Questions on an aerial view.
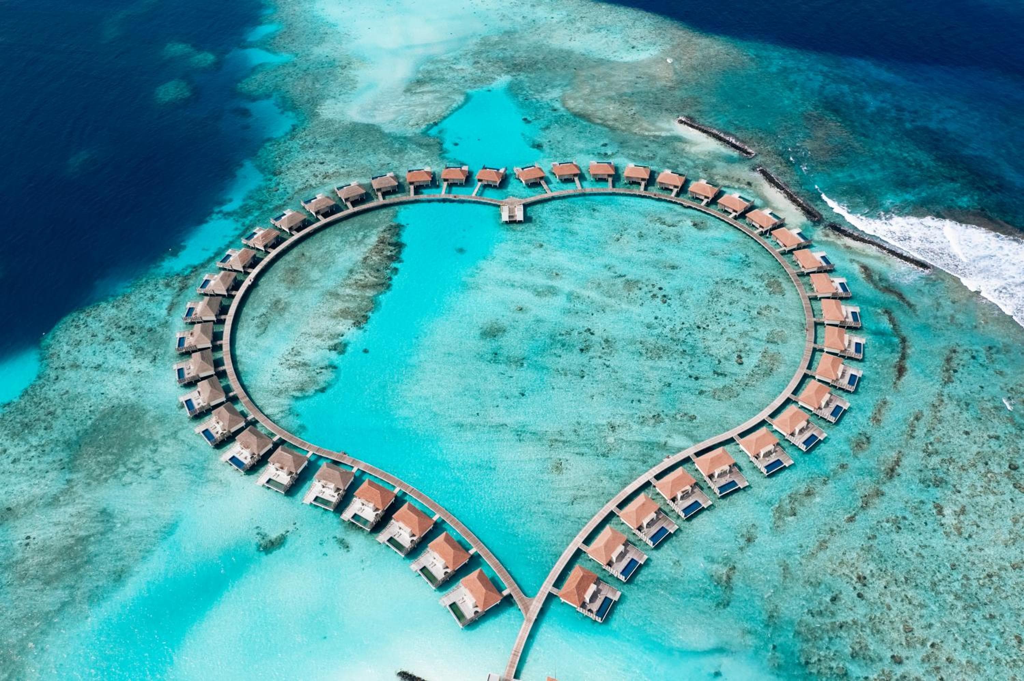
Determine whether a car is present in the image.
No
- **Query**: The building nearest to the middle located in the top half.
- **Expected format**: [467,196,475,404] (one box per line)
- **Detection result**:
[501,205,523,229]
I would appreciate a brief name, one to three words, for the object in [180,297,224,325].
house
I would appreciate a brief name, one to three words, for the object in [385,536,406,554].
swimming pool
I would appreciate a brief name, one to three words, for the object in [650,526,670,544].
swimming pool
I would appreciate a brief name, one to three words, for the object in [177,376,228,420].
house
